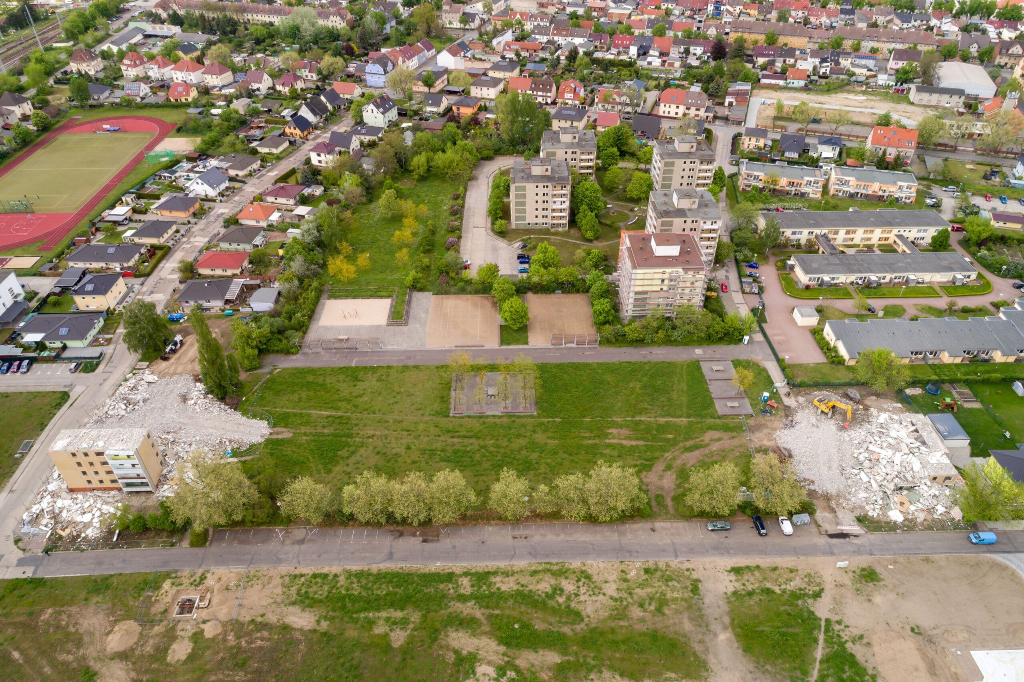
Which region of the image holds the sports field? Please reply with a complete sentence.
You can find the sports field in the top left area of the picture.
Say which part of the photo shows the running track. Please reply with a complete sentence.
Look in the top left portion of the view to spot the running track.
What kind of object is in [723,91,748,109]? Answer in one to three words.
shed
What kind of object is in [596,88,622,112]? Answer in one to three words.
house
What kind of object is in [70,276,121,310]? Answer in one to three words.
house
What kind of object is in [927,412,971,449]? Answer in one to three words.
building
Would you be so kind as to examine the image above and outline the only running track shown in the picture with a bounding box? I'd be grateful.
[0,120,170,252]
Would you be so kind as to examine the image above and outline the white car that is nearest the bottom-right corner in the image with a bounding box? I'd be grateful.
[776,515,797,536]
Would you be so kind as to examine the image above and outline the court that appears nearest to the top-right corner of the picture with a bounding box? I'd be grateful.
[526,294,598,345]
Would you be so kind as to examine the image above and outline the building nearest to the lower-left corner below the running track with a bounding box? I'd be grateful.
[48,428,164,494]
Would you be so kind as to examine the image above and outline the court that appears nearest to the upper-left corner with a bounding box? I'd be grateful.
[426,295,500,347]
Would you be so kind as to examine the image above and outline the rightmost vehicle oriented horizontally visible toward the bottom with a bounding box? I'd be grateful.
[969,531,1000,544]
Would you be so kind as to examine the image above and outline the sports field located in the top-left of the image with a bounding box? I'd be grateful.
[0,132,158,213]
